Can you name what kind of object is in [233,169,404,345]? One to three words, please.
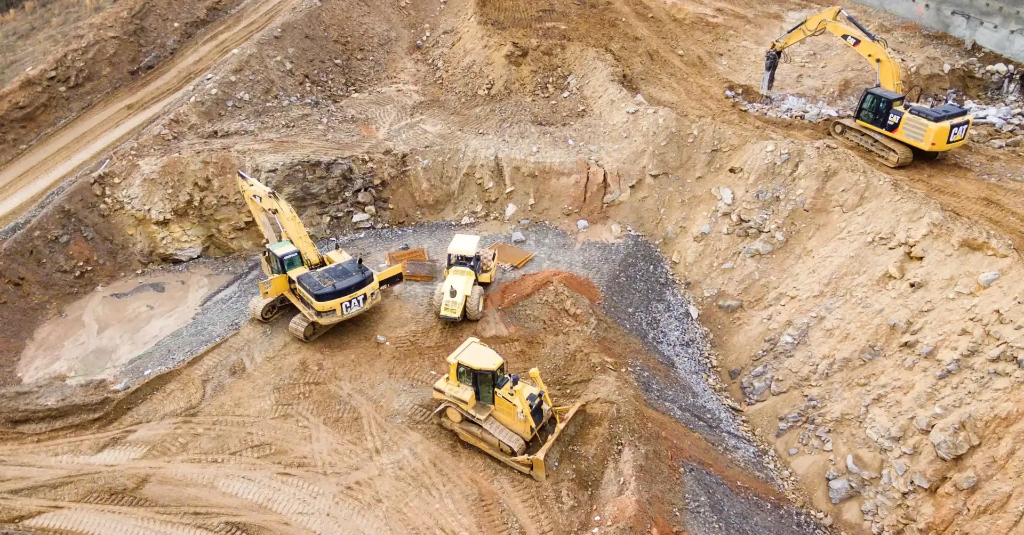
work vehicle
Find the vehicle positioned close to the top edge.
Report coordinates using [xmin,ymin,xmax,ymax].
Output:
[763,5,972,164]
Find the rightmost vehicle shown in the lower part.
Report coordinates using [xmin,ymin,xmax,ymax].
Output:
[428,335,586,483]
